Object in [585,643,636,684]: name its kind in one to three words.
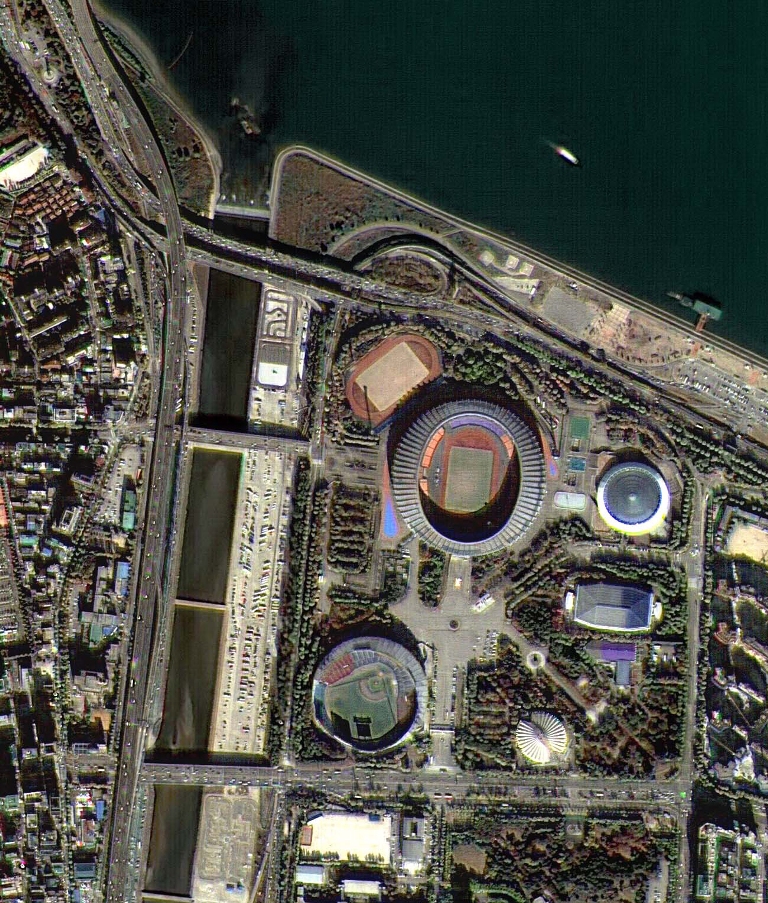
building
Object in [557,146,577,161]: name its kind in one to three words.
vessel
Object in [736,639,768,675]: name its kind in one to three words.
building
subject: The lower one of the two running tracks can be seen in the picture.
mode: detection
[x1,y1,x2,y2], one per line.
[438,429,502,526]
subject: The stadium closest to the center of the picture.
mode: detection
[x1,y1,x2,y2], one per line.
[392,401,544,556]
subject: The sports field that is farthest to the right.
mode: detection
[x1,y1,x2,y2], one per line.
[729,523,768,563]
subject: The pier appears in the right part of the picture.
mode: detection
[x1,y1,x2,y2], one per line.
[693,301,723,332]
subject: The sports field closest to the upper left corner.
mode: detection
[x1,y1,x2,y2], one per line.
[0,147,48,185]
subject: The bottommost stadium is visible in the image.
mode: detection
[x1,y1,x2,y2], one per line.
[312,638,428,754]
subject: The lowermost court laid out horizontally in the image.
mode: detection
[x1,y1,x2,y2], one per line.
[555,492,586,509]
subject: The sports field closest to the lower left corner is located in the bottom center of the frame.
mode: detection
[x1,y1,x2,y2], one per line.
[301,814,391,864]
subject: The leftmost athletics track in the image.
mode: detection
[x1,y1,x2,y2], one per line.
[346,333,439,420]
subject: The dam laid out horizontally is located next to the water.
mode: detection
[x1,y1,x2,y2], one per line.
[213,196,271,221]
